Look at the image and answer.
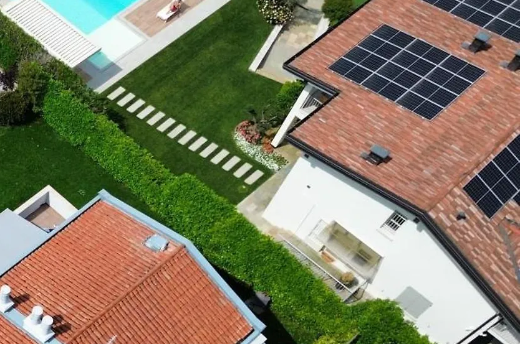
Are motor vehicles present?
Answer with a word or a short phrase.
No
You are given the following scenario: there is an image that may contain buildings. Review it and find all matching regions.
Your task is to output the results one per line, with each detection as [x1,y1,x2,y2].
[263,0,520,344]
[0,185,264,344]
